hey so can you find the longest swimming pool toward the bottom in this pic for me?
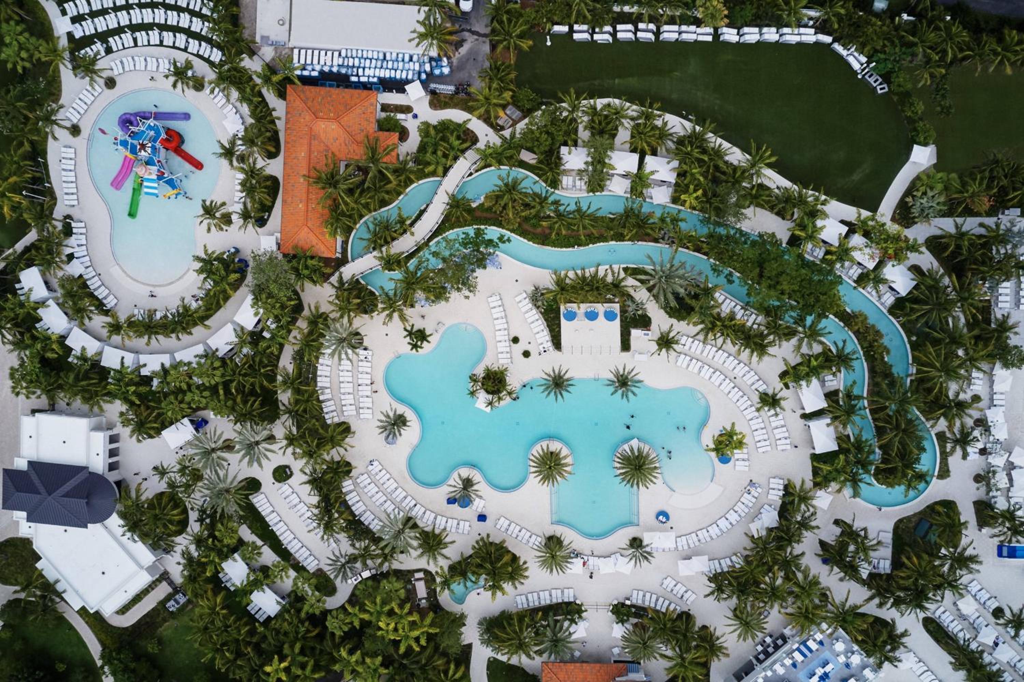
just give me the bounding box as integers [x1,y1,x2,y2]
[385,324,713,539]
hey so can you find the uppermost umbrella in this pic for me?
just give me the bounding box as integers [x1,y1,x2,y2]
[55,16,75,34]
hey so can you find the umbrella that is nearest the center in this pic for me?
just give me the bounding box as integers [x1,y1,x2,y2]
[473,391,494,413]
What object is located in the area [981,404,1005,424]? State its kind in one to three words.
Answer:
umbrella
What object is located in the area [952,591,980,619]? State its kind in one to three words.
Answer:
umbrella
